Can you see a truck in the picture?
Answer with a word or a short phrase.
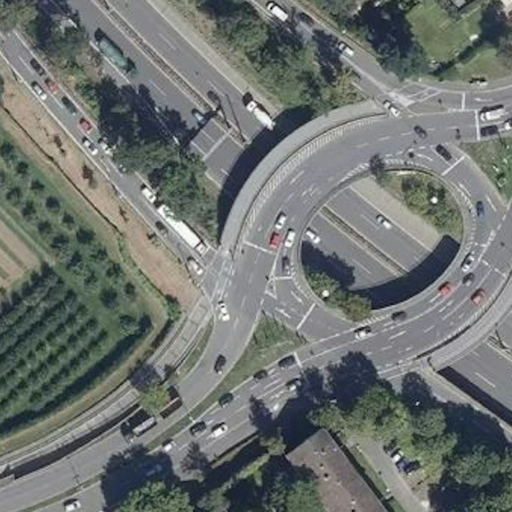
Yes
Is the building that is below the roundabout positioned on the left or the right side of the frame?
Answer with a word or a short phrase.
right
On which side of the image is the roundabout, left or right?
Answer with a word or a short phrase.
right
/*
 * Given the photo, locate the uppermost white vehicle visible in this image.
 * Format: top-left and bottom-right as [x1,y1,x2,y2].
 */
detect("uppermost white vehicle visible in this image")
[266,0,291,23]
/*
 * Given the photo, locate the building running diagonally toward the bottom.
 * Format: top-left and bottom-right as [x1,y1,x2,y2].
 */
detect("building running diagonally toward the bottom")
[286,429,389,512]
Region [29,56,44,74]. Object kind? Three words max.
car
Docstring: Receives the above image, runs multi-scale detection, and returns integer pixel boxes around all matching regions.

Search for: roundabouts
[212,109,512,378]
